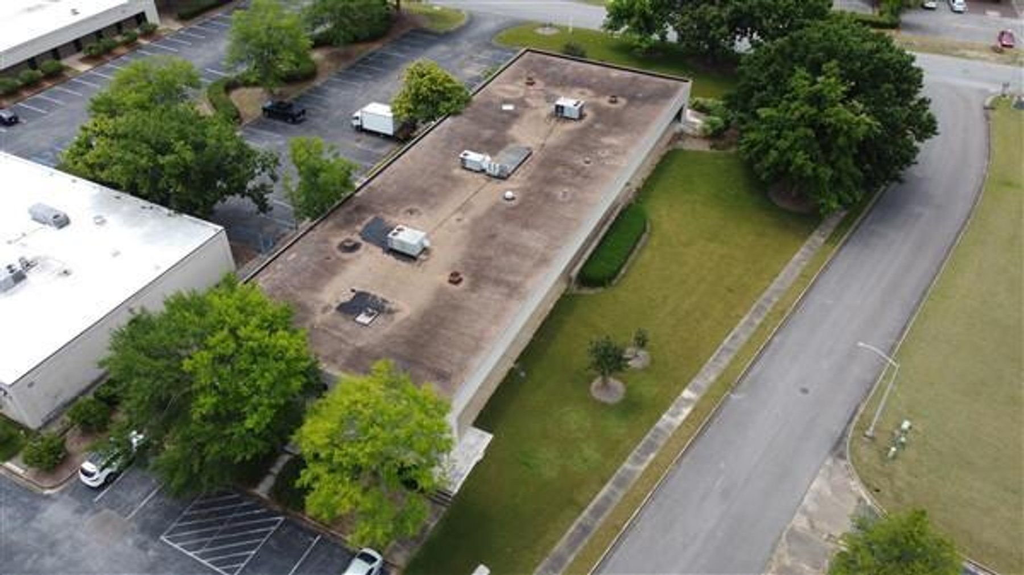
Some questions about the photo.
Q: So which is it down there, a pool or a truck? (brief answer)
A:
truck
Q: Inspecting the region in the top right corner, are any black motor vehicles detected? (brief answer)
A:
No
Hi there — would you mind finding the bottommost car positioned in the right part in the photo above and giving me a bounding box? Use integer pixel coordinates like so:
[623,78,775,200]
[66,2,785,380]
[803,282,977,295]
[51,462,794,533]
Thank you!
[998,28,1018,47]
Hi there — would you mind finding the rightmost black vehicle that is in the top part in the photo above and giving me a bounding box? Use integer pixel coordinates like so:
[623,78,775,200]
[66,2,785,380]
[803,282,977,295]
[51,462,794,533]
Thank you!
[264,95,312,120]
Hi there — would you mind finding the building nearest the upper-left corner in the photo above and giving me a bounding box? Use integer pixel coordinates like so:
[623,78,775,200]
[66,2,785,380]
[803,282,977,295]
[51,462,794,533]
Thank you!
[0,0,160,82]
